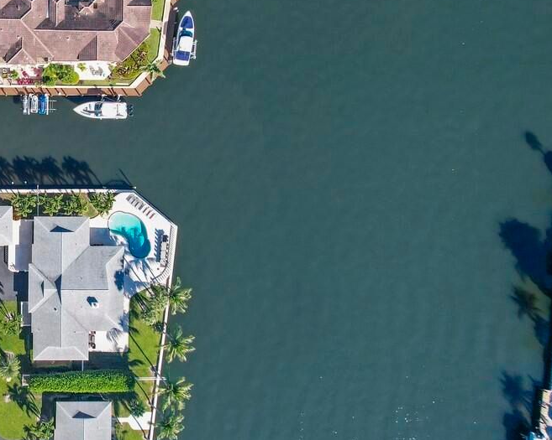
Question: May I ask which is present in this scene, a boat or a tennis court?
boat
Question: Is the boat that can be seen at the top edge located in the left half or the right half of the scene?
left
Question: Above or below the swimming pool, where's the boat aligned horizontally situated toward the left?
above it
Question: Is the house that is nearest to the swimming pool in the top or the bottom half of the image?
bottom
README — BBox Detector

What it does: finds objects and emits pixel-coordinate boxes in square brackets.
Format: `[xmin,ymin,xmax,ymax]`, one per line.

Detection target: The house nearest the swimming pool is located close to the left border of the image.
[12,217,128,362]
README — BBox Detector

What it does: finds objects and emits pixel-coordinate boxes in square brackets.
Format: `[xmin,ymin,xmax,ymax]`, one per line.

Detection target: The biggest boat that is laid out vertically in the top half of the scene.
[173,14,192,67]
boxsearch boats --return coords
[40,97,45,114]
[523,421,546,440]
[22,96,29,113]
[31,96,38,113]
[173,14,192,67]
[75,96,133,119]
